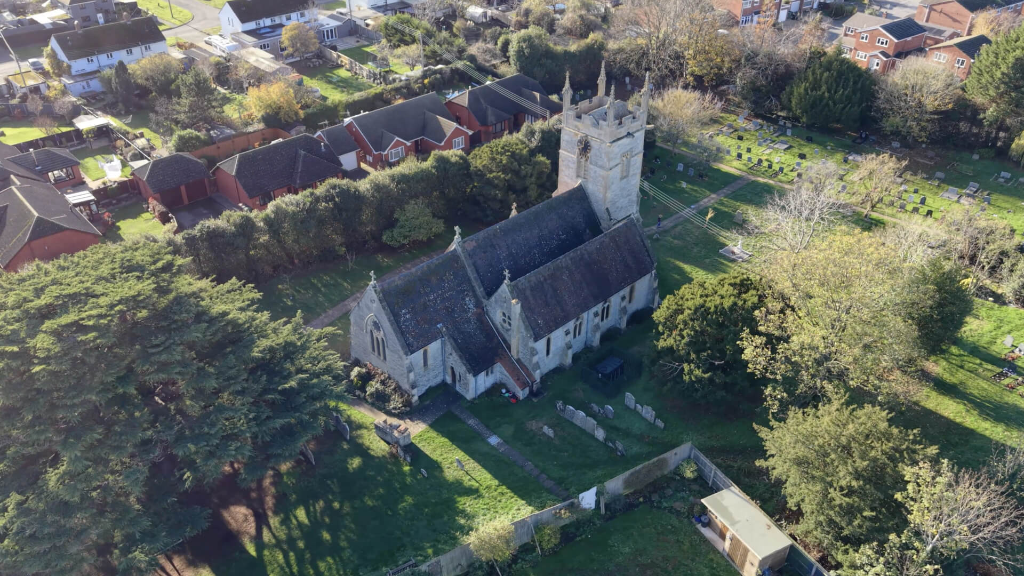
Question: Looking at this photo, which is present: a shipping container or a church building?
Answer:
church building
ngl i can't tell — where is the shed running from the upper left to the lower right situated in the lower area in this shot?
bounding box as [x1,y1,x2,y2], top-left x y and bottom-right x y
[700,484,797,576]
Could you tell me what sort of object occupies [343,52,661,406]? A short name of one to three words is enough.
church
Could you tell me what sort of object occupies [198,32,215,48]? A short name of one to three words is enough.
car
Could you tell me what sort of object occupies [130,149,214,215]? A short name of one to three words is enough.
building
